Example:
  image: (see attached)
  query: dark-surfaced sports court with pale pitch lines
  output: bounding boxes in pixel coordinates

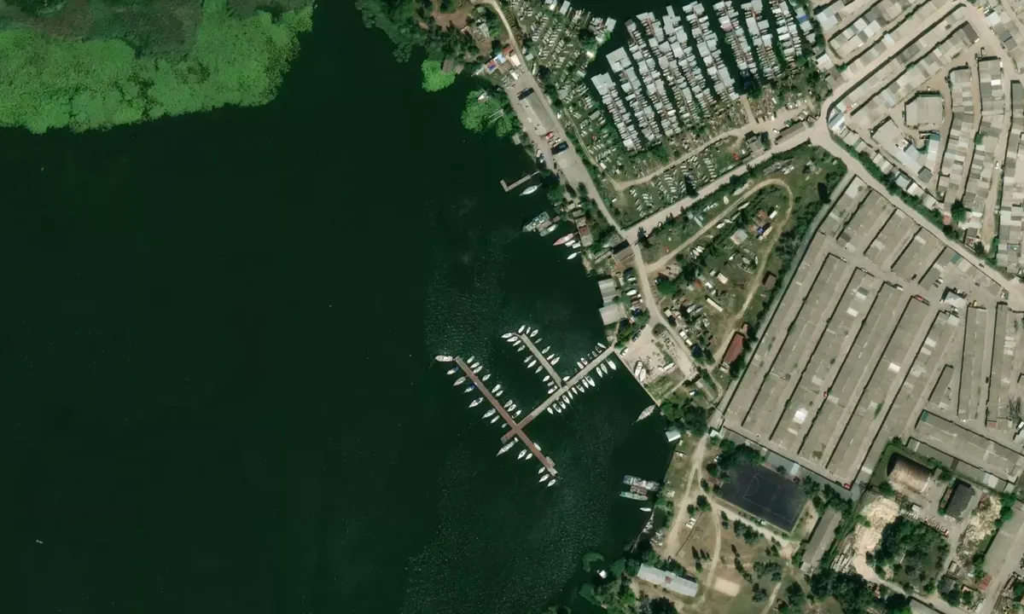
[718,458,810,535]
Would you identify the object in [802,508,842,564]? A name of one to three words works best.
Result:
barn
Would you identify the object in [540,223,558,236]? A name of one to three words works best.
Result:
boat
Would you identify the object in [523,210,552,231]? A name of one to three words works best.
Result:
ship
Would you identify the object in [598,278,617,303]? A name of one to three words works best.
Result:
building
